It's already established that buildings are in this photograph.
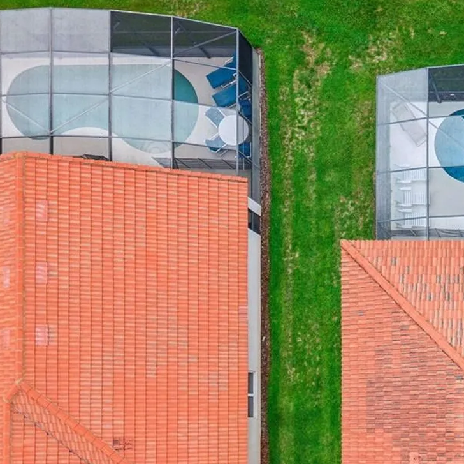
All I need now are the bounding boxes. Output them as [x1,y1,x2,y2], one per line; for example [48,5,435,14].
[0,151,262,464]
[338,236,464,464]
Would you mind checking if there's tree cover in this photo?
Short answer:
No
